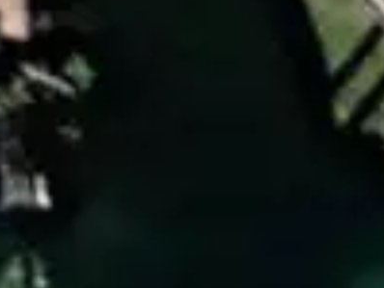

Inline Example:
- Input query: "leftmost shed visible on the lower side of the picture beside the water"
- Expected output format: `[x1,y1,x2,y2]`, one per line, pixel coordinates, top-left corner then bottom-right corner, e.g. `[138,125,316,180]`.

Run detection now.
[0,172,51,212]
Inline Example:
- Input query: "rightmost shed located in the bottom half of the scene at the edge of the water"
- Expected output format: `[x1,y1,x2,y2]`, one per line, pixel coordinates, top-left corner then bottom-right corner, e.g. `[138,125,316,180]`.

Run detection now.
[37,174,68,214]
